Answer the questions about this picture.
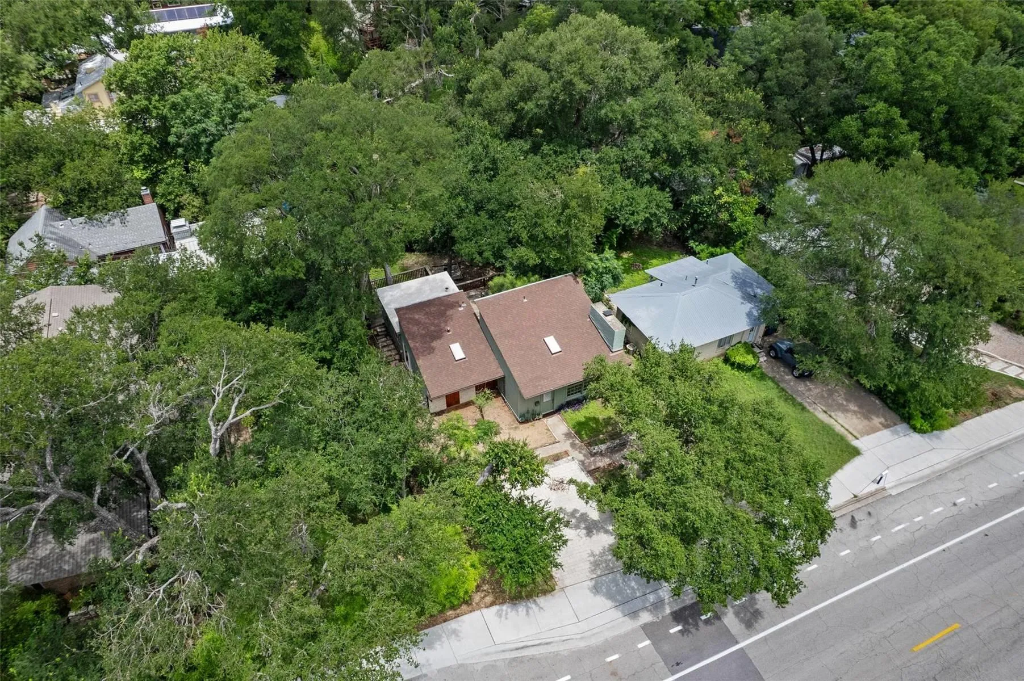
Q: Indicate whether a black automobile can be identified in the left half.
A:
No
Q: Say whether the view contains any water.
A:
No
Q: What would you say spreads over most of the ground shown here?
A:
trees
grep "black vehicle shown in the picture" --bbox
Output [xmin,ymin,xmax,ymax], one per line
[769,338,824,379]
